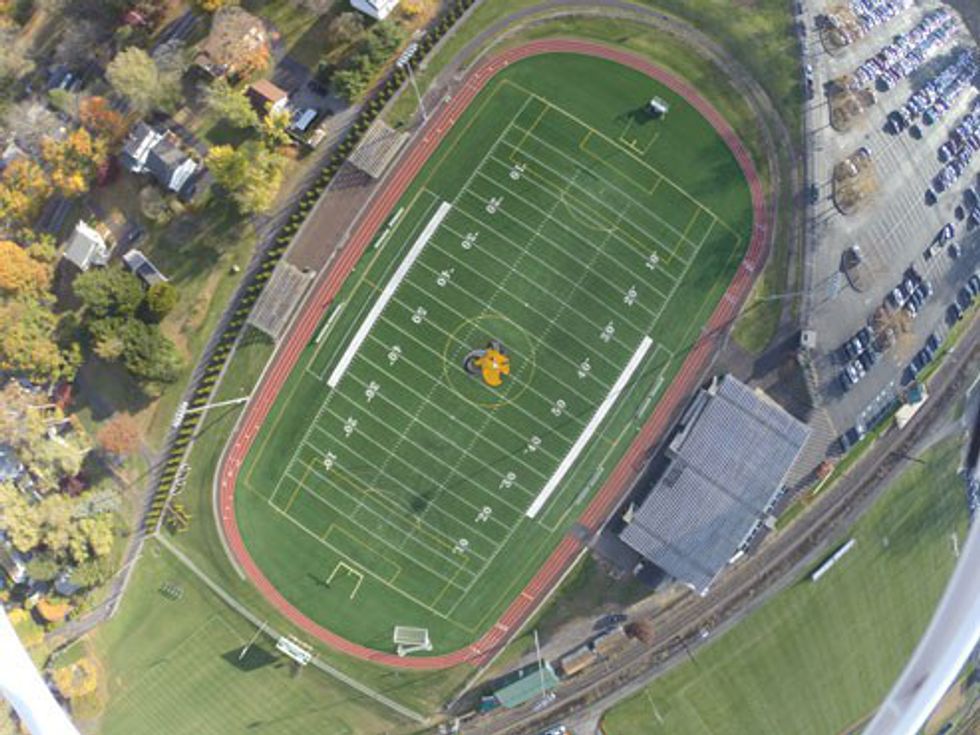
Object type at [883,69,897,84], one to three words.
vehicle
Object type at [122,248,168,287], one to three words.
shed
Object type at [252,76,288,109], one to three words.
building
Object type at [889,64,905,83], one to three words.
car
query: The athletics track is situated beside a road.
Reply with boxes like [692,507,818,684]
[220,36,768,670]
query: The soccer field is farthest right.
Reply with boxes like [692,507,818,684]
[653,481,980,735]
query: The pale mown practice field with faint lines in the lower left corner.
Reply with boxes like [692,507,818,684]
[98,617,334,735]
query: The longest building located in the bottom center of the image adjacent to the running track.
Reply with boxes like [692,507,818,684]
[496,656,559,710]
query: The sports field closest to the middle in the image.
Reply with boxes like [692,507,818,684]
[234,52,752,657]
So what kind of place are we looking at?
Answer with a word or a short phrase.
sports ground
